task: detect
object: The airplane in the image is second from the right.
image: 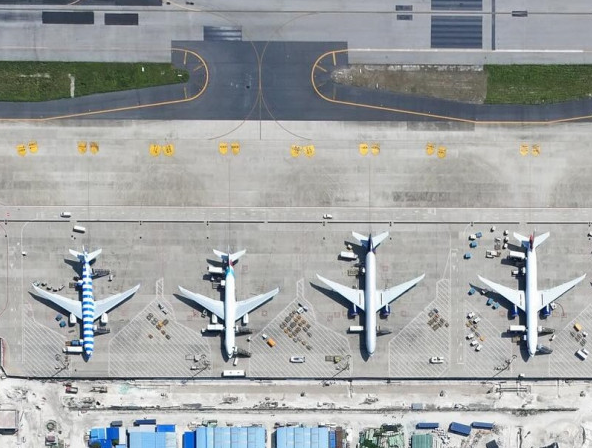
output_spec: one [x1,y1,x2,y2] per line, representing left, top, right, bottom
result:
[316,232,424,356]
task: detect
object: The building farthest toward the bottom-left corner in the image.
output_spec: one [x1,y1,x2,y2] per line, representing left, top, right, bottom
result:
[0,409,17,428]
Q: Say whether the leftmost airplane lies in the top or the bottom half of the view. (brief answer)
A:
bottom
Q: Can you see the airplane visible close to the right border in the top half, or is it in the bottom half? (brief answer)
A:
bottom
